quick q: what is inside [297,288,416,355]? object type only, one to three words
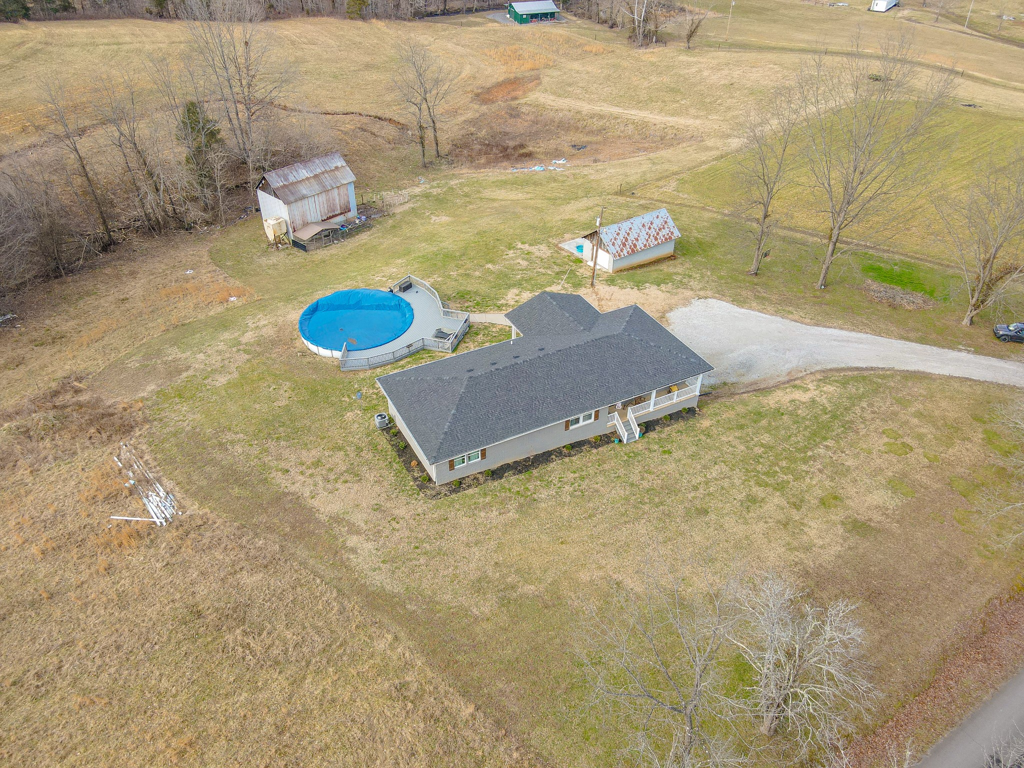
swimming pool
